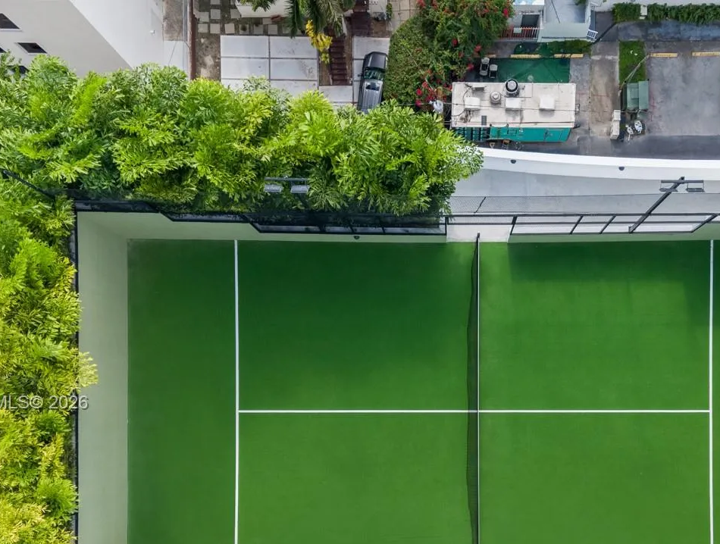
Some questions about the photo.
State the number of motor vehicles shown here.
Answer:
two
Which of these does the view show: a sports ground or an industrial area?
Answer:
sports ground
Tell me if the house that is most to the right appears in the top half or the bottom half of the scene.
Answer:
top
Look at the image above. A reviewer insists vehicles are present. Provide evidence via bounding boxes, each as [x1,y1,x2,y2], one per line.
[352,47,390,127]
[452,77,576,147]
